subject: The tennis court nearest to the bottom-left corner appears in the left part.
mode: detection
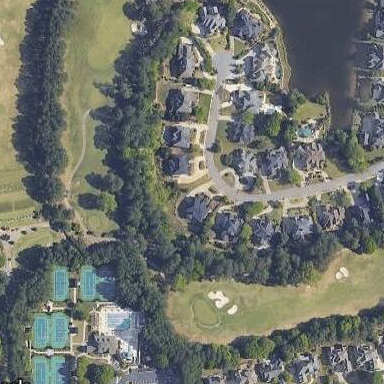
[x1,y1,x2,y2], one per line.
[34,356,52,384]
